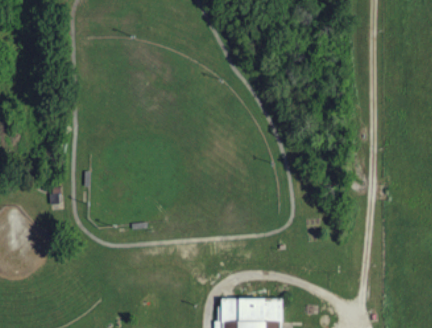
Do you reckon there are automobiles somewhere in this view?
No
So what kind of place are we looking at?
sports ground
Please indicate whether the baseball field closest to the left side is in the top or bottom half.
bottom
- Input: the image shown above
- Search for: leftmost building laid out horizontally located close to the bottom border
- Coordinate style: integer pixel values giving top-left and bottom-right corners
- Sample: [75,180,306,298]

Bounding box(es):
[214,298,282,328]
